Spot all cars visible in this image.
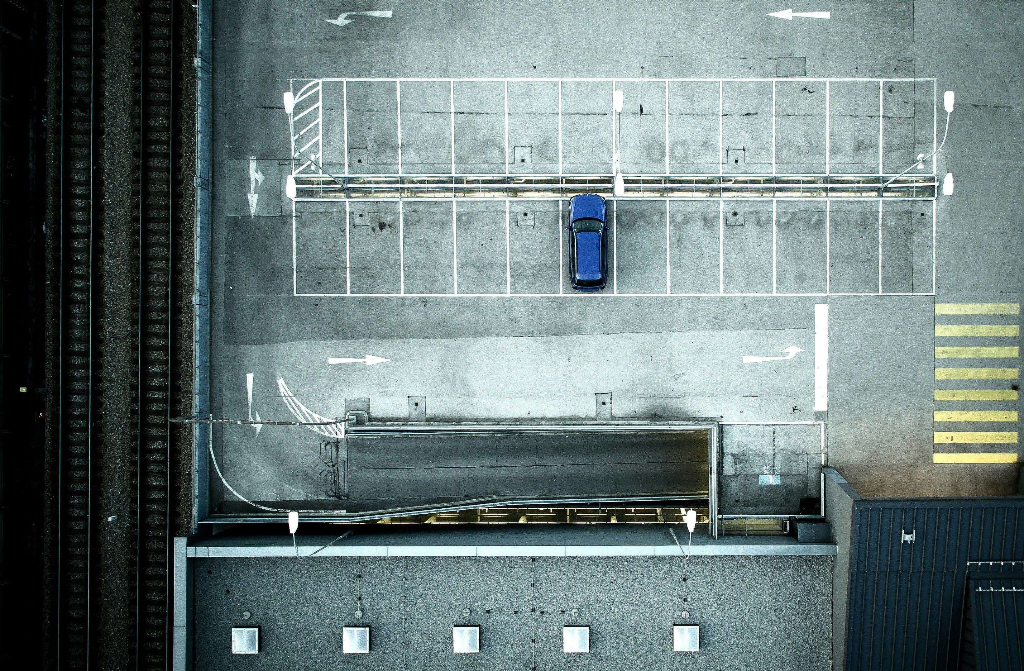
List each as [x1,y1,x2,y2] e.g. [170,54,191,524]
[565,193,611,294]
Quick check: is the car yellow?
No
